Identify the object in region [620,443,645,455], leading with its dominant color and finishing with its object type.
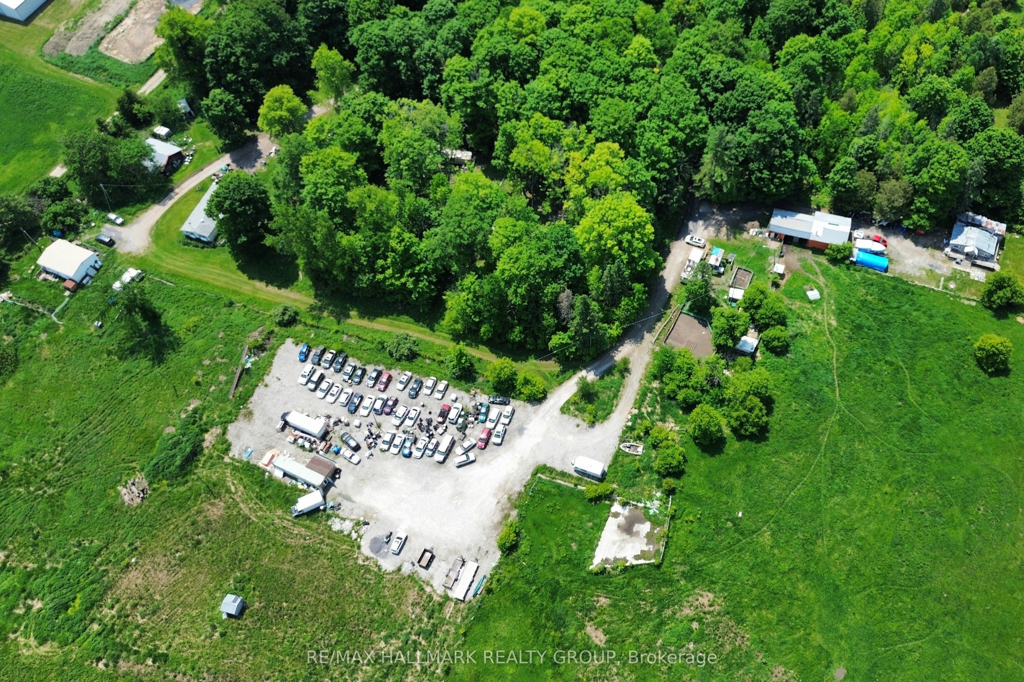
white boat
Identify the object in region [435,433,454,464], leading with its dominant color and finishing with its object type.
white vehicle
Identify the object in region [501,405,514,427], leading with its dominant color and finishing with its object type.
white vehicle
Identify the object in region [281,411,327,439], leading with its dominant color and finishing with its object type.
white truck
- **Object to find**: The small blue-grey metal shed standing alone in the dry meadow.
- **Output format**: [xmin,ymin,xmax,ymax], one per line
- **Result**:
[219,593,246,615]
